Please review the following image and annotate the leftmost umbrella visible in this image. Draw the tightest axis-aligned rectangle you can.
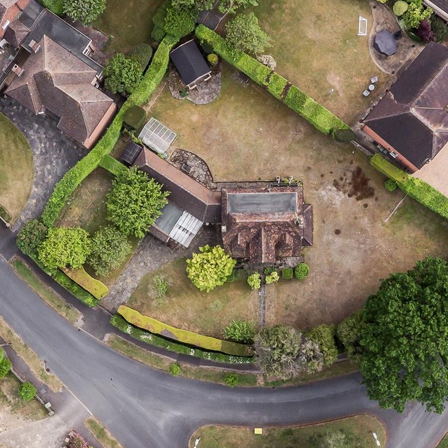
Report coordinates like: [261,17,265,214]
[371,30,398,56]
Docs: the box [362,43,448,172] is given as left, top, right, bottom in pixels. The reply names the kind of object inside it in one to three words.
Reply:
house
